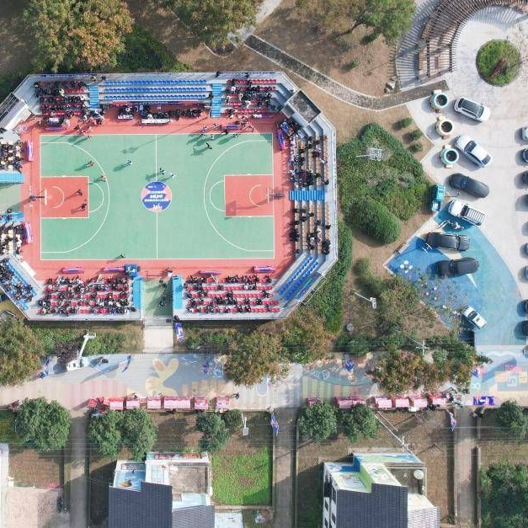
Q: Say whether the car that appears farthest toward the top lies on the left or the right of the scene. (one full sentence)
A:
The car that appears farthest toward the top appears in the right half of the scene.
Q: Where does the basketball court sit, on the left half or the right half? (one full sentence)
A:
It is on the left.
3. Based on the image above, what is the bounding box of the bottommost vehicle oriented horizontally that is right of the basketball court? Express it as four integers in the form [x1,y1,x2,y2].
[437,256,480,278]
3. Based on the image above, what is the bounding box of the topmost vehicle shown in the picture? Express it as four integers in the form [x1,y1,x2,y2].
[452,94,493,125]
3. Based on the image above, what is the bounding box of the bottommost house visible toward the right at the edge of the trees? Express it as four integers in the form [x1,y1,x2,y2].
[324,445,441,528]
